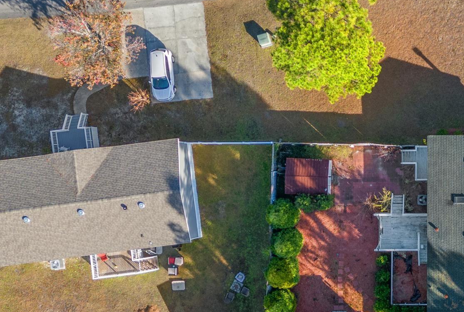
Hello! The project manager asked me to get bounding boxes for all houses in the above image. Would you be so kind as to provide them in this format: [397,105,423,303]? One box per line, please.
[0,137,205,267]
[424,133,464,312]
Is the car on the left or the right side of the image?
left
